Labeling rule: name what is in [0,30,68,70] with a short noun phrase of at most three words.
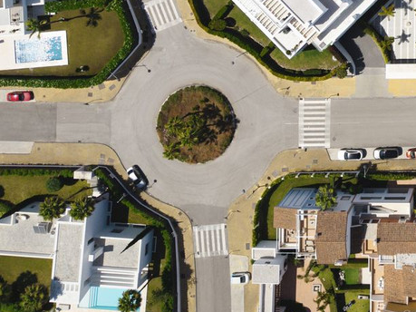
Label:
swimming pool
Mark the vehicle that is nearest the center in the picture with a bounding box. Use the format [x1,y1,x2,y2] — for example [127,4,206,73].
[126,164,149,190]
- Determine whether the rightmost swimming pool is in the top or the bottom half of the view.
bottom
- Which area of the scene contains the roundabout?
center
